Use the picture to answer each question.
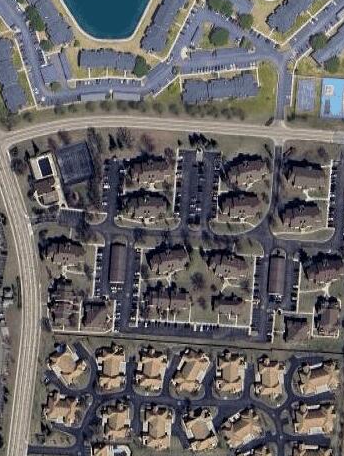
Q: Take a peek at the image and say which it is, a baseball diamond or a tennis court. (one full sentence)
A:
The image shows a tennis court.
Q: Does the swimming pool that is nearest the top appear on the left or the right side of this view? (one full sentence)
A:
You can find the swimming pool that is nearest the top on the left side of the picture.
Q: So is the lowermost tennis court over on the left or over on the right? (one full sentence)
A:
The lowermost tennis court appears in the left half of the scene.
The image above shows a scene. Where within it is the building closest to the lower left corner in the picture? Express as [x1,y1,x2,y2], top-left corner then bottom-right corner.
[43,394,82,423]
